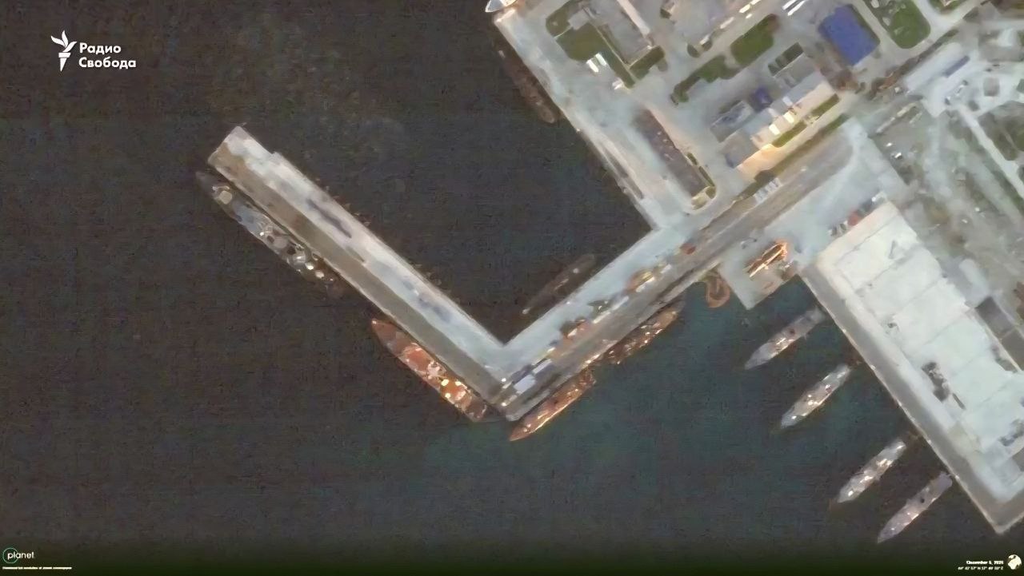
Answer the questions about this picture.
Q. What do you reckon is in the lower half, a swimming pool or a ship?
ship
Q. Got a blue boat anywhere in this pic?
No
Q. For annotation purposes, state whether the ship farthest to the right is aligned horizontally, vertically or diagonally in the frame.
diagonally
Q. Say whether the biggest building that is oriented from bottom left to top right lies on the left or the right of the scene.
right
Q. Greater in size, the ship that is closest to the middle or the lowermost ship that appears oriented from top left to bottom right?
the lowermost ship that appears oriented from top left to bottom right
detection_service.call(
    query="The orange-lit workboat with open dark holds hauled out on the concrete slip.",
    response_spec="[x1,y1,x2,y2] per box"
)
[749,242,793,279]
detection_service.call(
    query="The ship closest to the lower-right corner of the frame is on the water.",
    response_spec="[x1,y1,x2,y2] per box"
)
[879,469,957,542]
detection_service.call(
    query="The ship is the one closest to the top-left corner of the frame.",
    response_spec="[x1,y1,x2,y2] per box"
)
[196,170,346,302]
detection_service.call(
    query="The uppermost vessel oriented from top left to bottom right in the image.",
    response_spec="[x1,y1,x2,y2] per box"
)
[499,46,555,121]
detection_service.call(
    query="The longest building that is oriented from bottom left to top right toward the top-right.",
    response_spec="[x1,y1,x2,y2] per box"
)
[738,70,839,154]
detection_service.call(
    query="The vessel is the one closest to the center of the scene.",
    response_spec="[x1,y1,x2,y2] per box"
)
[524,256,594,312]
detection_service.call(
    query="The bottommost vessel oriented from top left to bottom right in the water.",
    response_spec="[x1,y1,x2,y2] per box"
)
[373,320,491,428]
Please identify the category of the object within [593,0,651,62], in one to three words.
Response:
building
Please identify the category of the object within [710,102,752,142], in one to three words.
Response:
building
